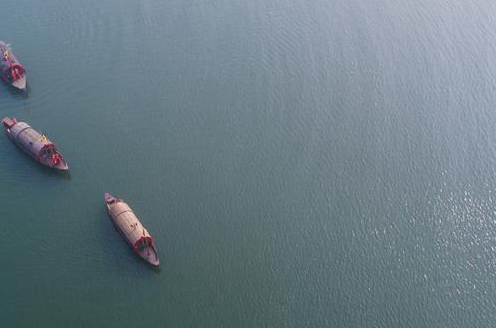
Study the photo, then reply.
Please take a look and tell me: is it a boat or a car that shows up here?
boat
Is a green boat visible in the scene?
No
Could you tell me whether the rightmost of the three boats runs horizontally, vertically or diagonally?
diagonally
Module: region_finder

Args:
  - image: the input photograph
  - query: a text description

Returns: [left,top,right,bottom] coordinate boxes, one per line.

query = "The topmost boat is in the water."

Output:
[0,46,29,95]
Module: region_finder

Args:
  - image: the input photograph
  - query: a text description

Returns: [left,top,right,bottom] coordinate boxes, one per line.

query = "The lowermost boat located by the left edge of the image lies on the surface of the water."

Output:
[0,116,71,176]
